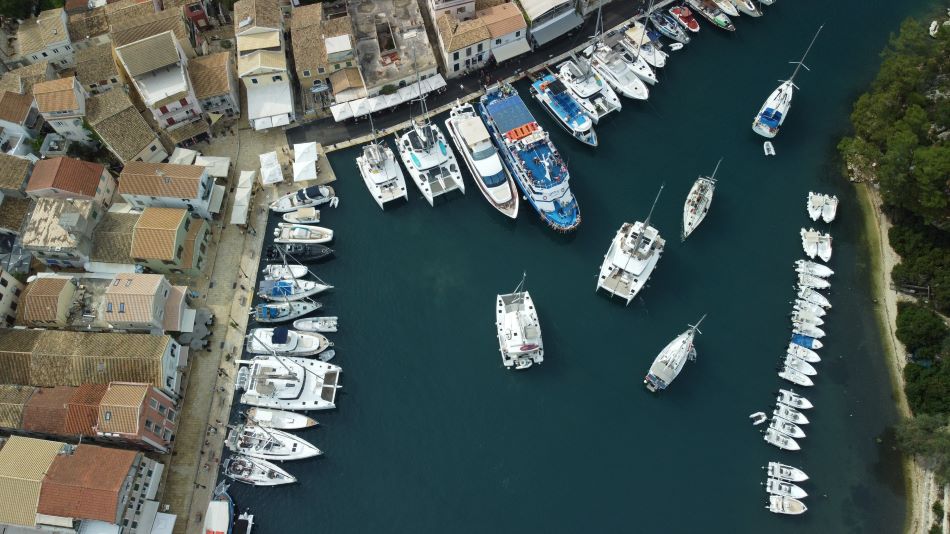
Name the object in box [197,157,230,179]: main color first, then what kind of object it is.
white umbrella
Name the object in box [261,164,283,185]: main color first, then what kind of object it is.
white umbrella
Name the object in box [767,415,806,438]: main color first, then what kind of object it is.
white boat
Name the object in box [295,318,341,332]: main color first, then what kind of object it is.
white boat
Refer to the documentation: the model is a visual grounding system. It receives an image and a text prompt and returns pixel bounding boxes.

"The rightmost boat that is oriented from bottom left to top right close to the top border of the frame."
[753,24,830,140]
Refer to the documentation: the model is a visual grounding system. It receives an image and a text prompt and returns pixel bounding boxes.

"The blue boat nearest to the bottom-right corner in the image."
[788,333,824,350]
